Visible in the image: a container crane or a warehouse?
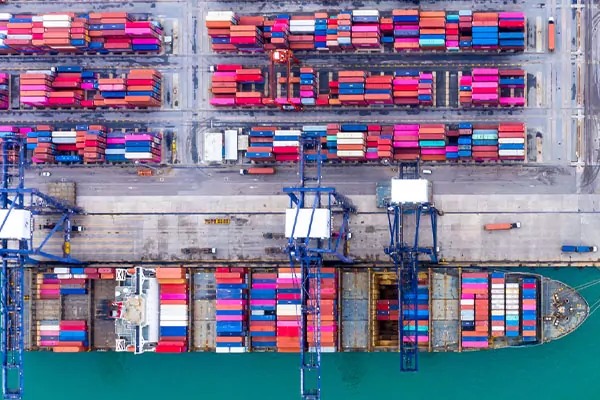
container crane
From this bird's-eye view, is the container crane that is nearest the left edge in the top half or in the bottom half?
bottom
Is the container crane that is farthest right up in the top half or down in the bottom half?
bottom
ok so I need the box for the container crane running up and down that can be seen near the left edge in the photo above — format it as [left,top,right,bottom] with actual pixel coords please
[0,138,84,400]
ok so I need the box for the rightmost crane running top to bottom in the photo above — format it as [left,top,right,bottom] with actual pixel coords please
[384,162,444,374]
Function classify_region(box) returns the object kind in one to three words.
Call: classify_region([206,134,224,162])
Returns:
shed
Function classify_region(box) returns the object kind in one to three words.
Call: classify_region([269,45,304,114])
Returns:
container crane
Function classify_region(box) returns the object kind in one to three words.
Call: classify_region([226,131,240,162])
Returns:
shed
